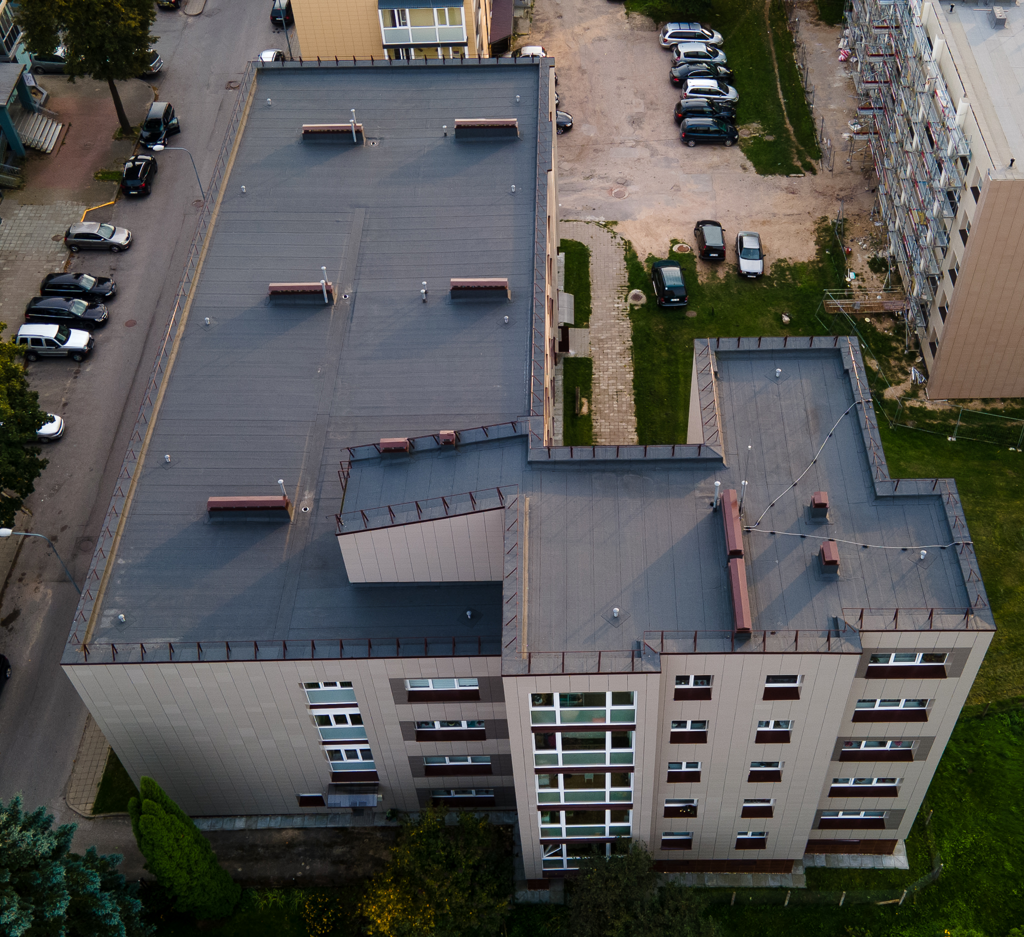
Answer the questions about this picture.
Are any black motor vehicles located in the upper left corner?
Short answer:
Yes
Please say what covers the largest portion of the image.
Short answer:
buildings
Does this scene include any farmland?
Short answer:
No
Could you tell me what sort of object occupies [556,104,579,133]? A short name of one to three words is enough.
car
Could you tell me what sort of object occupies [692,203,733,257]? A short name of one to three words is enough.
car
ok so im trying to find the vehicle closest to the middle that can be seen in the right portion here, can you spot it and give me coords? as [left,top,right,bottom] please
[650,246,690,304]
